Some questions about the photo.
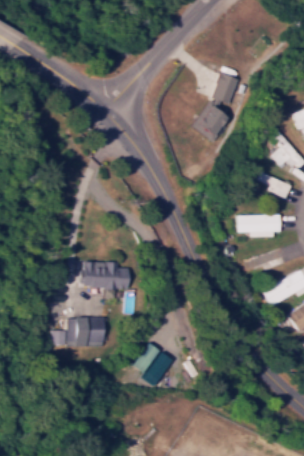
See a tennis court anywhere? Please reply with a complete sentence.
No, there is no tennis court in the image.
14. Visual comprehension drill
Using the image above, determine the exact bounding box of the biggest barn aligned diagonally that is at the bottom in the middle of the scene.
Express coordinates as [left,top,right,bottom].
[142,350,176,386]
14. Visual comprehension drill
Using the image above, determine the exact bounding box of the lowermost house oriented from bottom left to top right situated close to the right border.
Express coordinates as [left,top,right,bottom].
[262,266,304,304]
